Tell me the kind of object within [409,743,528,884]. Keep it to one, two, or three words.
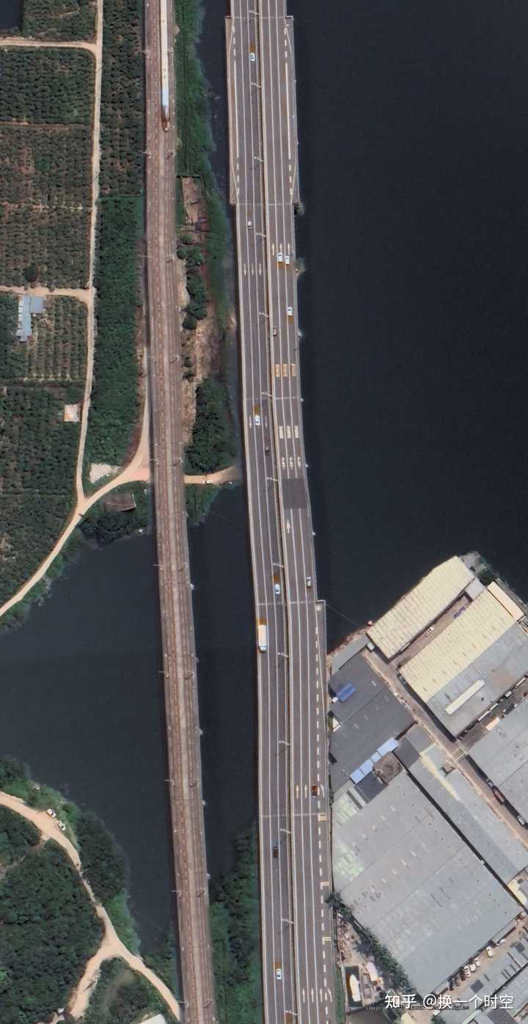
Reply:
warehouse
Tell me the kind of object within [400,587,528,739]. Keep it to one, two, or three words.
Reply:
warehouse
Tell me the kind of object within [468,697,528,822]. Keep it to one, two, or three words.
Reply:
building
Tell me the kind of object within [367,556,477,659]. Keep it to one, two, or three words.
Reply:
building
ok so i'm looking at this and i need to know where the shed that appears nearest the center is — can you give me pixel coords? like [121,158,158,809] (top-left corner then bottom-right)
[104,492,137,511]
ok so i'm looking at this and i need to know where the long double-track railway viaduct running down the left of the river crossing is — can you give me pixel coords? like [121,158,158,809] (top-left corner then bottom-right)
[145,0,216,1024]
